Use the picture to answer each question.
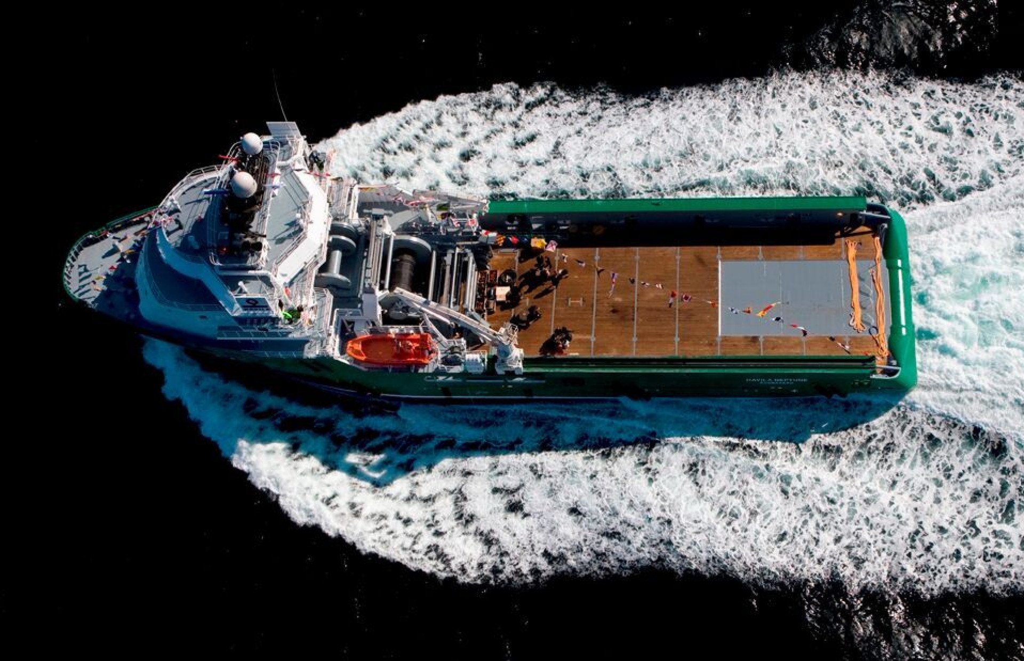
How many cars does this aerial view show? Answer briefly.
zero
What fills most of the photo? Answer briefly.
water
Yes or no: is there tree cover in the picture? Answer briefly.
No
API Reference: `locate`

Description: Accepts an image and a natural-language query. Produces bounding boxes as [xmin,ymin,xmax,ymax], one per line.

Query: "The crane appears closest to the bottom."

[389,290,525,377]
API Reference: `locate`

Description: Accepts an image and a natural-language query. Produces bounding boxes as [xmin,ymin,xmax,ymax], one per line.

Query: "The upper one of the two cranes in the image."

[418,187,490,246]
